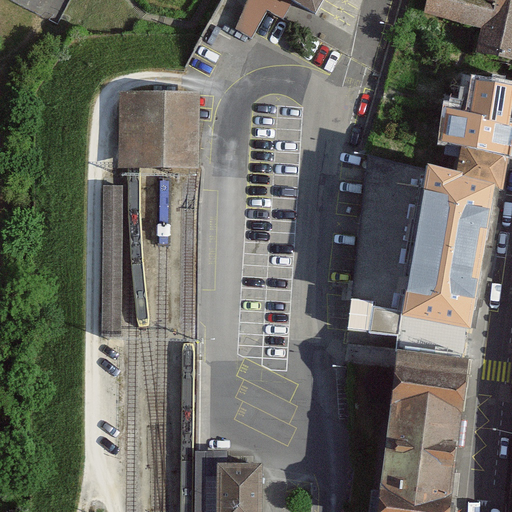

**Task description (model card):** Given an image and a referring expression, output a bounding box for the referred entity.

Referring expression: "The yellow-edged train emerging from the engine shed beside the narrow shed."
[127,168,149,328]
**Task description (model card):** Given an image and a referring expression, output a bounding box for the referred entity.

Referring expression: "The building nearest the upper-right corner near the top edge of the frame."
[424,0,512,60]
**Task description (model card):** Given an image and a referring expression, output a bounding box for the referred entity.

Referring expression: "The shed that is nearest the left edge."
[102,185,124,335]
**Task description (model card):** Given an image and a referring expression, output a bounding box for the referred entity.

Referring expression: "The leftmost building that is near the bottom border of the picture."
[216,462,264,512]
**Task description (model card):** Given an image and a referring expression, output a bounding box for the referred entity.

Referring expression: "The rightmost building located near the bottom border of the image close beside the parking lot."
[378,348,470,512]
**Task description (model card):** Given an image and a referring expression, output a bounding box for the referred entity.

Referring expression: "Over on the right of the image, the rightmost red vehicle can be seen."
[356,93,371,116]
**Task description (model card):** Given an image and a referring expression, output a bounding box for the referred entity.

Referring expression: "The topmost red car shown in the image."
[314,45,330,67]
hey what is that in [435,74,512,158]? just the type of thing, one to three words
house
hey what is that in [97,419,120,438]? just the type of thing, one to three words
car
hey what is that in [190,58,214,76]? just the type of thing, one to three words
vehicle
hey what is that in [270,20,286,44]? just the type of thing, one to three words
car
